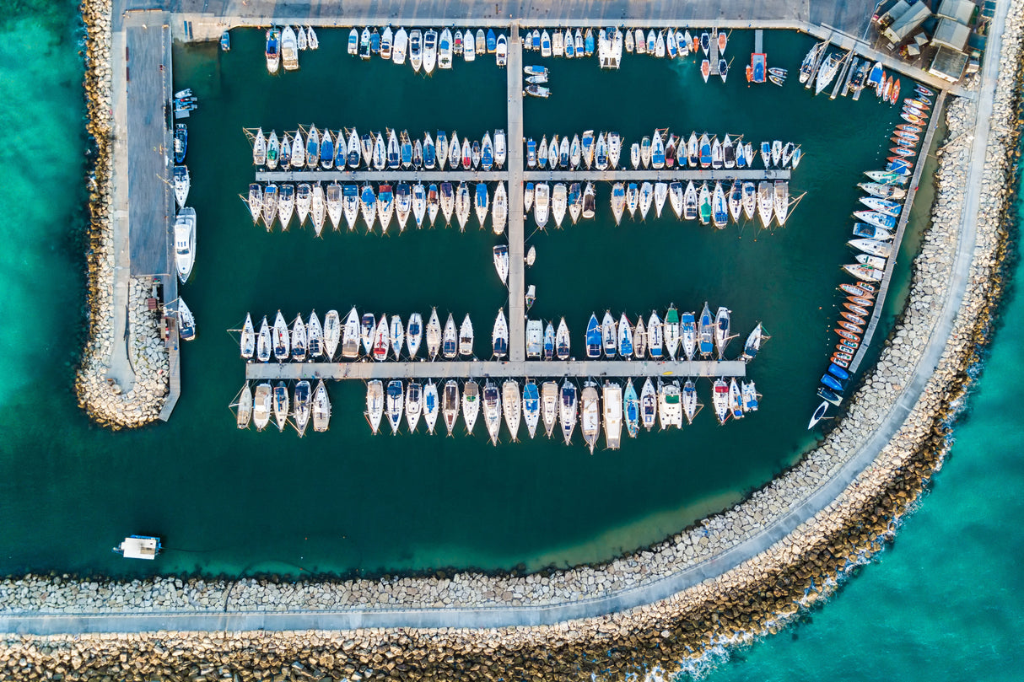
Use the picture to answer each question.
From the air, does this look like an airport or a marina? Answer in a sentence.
The picture captures a marina.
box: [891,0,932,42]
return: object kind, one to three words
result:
shed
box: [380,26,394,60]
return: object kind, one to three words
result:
boat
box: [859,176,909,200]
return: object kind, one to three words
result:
boat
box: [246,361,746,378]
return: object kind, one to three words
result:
pier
